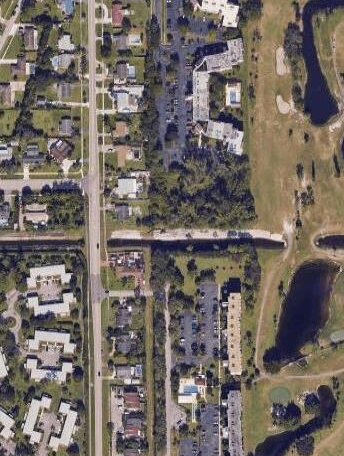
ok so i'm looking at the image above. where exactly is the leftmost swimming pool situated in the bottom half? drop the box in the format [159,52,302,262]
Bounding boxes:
[178,378,205,403]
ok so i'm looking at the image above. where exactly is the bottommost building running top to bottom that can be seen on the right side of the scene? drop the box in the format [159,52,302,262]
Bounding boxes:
[228,391,243,456]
